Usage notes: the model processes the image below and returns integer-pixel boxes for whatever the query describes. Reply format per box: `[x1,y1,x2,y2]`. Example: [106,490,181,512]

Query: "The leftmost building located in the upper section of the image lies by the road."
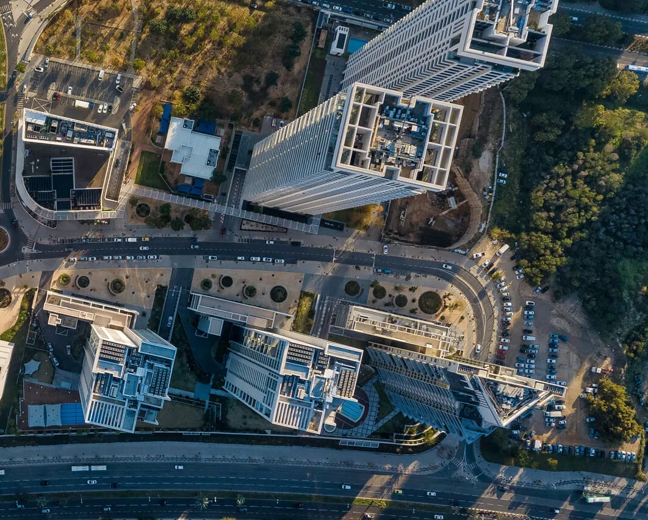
[16,108,124,219]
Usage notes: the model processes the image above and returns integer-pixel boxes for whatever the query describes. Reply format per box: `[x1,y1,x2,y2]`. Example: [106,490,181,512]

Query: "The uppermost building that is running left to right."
[341,0,558,103]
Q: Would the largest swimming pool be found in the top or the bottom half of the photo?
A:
bottom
